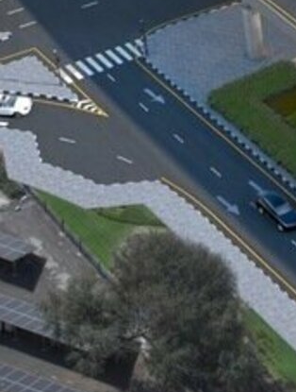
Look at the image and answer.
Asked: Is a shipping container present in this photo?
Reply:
No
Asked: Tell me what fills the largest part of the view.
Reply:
paved ground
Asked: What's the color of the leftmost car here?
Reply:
white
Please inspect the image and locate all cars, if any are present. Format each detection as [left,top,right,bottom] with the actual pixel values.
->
[258,193,296,230]
[0,94,38,118]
